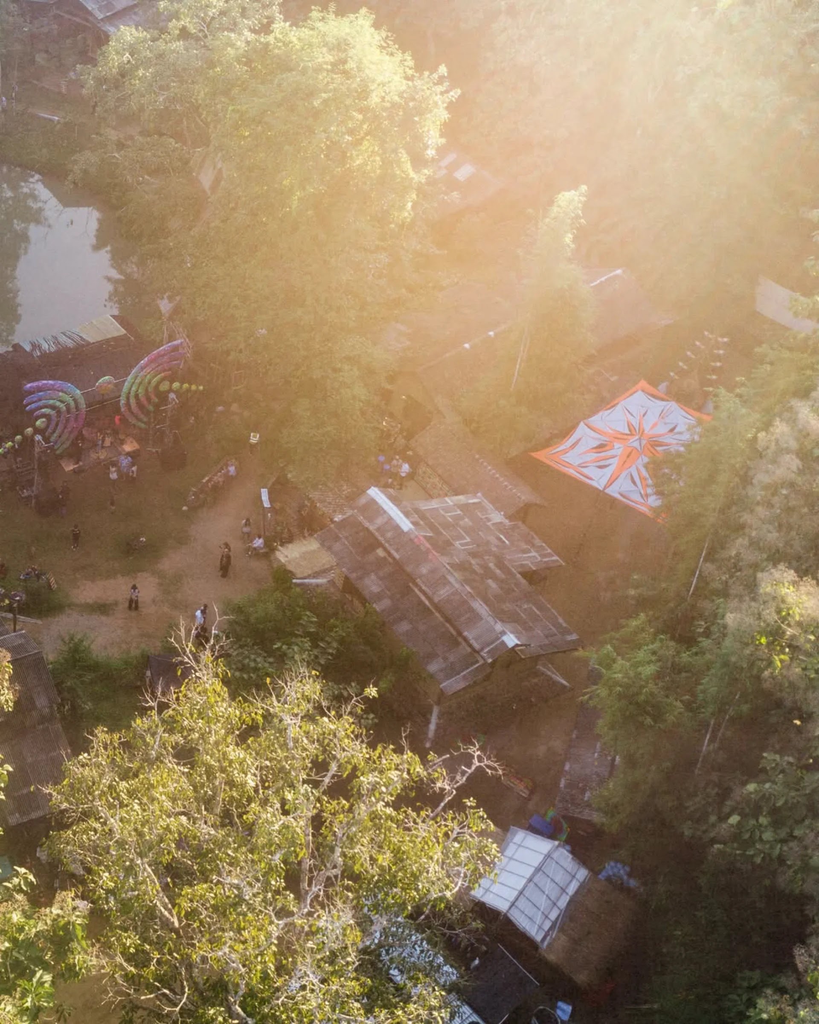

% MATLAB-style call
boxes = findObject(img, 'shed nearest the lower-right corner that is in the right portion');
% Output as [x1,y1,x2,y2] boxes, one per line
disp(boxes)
[534,868,673,1005]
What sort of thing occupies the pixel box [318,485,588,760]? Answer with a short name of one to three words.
house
